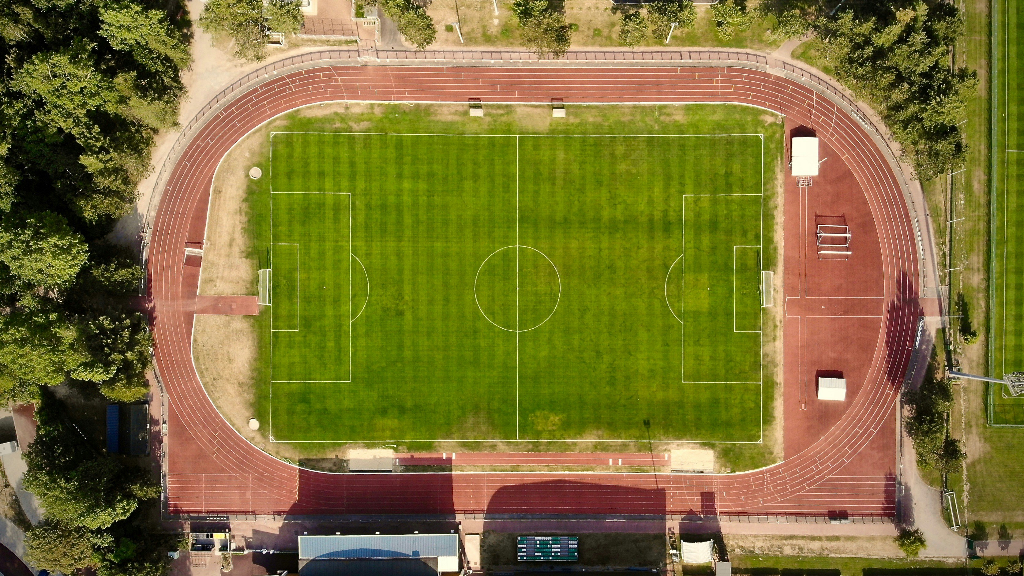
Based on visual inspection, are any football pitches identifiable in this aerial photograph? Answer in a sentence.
Yes, the image includes a football pitch.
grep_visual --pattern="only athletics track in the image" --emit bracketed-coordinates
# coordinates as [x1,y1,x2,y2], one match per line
[146,66,920,518]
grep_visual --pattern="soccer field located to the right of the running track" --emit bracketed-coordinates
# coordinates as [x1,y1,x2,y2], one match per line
[991,0,1024,429]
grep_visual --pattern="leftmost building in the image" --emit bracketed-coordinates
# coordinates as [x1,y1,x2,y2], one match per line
[187,533,230,555]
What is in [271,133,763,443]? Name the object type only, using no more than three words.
soccer field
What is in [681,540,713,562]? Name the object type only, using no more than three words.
shed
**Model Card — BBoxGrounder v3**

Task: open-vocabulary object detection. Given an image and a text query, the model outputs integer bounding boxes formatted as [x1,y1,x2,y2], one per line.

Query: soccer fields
[991,0,1024,429]
[271,133,763,443]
